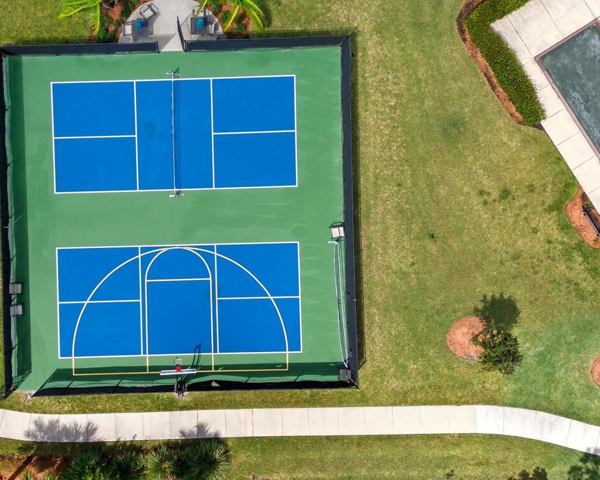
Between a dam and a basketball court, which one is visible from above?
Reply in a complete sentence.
There is a basketball court in the scene.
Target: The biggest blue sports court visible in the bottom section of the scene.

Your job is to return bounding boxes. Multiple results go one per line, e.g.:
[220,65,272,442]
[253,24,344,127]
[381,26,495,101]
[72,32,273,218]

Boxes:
[56,242,302,359]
